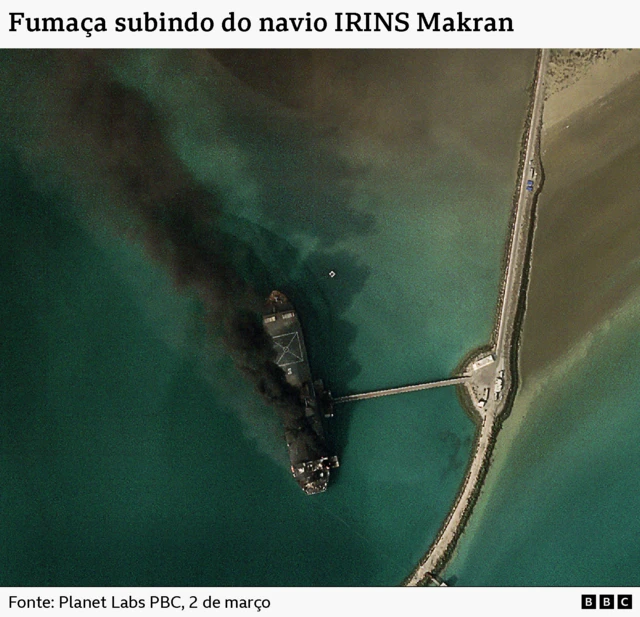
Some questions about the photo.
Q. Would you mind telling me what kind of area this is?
port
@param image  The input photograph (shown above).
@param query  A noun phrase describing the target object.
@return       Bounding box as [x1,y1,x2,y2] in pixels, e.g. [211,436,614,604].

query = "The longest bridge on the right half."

[332,375,471,403]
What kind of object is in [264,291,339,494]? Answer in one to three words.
ship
